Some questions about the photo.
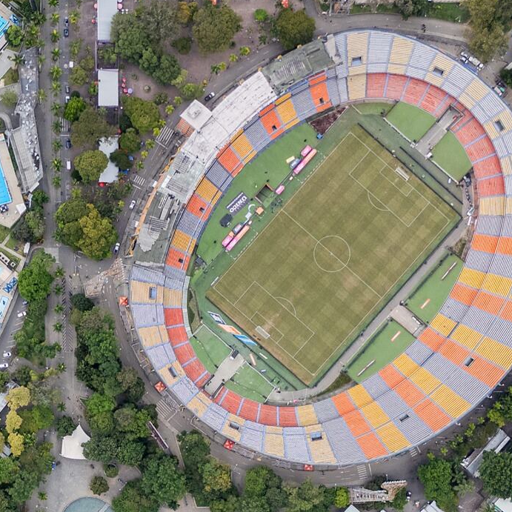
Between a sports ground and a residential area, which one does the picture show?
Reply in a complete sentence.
This image shows a sports ground.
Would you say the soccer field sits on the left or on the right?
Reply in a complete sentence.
You can find the soccer field on the right side of the picture.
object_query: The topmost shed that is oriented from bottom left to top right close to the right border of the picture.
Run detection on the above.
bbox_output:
[461,430,510,476]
